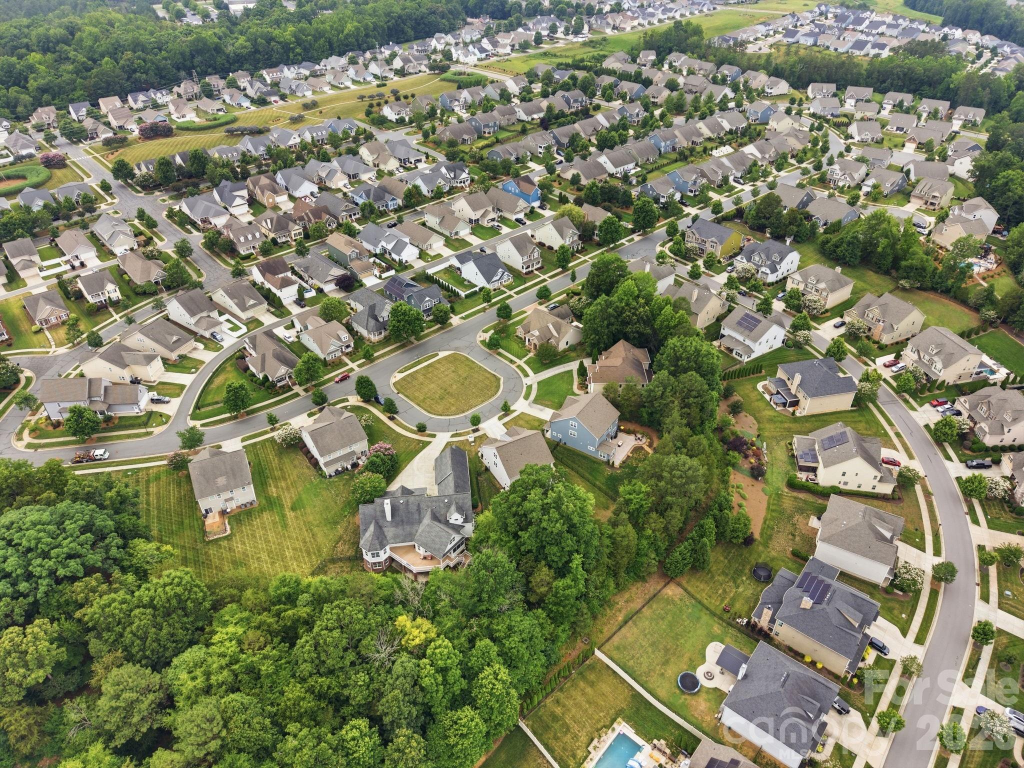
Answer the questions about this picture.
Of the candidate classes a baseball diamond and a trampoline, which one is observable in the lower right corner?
trampoline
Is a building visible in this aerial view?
Yes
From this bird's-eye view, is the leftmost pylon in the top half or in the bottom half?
top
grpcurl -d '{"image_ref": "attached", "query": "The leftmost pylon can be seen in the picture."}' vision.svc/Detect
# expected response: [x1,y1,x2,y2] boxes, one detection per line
[186,68,208,102]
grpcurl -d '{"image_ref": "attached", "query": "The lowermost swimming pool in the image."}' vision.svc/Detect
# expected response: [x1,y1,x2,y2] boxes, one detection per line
[590,728,646,768]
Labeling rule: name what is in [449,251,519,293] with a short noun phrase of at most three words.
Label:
house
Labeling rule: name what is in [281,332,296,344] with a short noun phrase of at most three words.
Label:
vehicle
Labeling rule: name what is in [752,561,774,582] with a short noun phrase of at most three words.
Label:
trampoline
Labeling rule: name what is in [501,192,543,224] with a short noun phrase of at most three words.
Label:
house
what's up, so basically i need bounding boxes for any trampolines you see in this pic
[752,561,774,582]
[677,669,702,694]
